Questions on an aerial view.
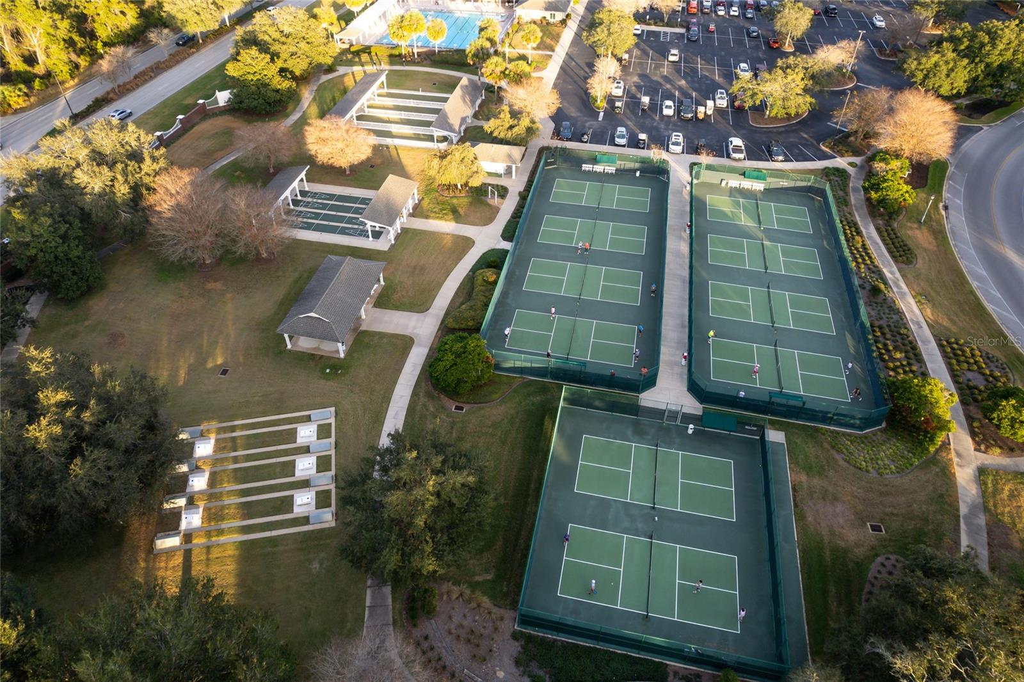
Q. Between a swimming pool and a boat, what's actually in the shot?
swimming pool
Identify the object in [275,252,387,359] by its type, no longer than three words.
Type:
building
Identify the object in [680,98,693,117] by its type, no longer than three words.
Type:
vehicle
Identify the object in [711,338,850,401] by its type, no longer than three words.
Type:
sports court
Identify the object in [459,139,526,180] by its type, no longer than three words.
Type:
building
